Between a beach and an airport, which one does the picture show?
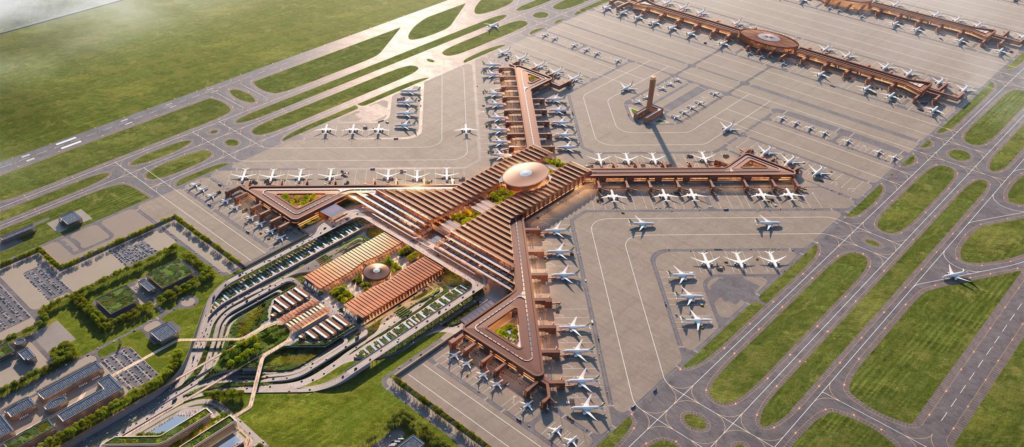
airport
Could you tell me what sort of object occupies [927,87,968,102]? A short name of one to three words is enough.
jet bridge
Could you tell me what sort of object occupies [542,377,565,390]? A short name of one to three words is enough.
jet bridge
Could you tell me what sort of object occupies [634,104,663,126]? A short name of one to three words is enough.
building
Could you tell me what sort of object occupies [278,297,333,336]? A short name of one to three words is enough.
building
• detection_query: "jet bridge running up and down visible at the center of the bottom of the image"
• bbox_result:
[538,379,551,410]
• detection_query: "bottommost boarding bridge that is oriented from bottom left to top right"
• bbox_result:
[523,380,540,400]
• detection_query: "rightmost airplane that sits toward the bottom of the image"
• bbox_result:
[942,264,970,281]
